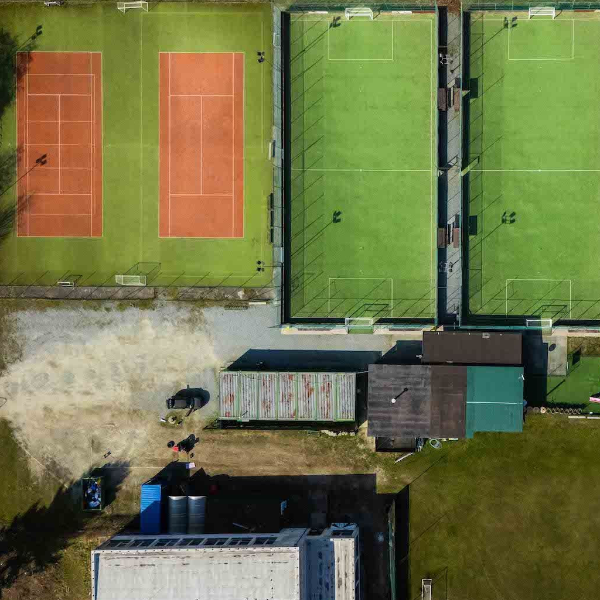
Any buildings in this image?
Yes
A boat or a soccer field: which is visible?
soccer field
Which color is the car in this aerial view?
black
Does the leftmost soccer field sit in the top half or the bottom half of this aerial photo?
top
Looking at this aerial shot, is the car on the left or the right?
left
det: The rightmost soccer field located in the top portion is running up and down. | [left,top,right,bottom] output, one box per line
[465,10,600,324]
